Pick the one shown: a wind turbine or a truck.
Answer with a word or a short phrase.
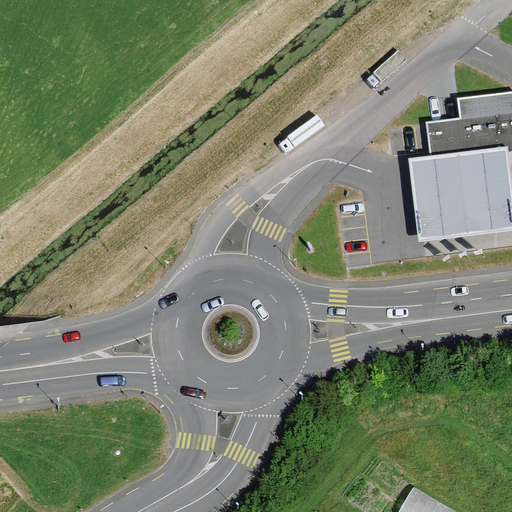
truck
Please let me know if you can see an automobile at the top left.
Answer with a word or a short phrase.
No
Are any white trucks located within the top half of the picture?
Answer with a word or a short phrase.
Yes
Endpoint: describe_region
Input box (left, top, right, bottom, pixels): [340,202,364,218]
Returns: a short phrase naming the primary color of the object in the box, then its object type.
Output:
white car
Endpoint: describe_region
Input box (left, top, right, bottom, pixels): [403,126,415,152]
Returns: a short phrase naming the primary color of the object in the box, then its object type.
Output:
black vehicle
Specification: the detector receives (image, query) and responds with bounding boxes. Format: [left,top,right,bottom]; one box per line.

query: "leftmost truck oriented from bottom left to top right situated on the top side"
[277,114,324,158]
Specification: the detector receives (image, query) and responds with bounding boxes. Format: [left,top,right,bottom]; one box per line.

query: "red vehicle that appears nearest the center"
[344,241,367,253]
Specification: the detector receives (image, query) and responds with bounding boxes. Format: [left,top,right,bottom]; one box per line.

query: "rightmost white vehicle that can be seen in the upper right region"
[429,96,442,121]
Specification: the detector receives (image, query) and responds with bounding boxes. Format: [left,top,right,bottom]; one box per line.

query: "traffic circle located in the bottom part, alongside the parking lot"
[112,200,362,462]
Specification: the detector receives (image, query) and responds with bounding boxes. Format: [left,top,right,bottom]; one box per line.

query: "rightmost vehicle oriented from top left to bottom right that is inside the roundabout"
[252,300,269,322]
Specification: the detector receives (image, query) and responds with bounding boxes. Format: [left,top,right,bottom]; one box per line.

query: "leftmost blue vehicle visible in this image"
[98,376,126,388]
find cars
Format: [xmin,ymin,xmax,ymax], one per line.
[344,241,367,253]
[450,286,469,297]
[502,314,512,325]
[158,293,180,309]
[403,126,415,152]
[181,386,206,400]
[386,308,408,319]
[340,202,364,218]
[62,332,81,342]
[445,98,456,120]
[252,300,269,322]
[328,306,348,317]
[429,96,442,121]
[202,297,224,312]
